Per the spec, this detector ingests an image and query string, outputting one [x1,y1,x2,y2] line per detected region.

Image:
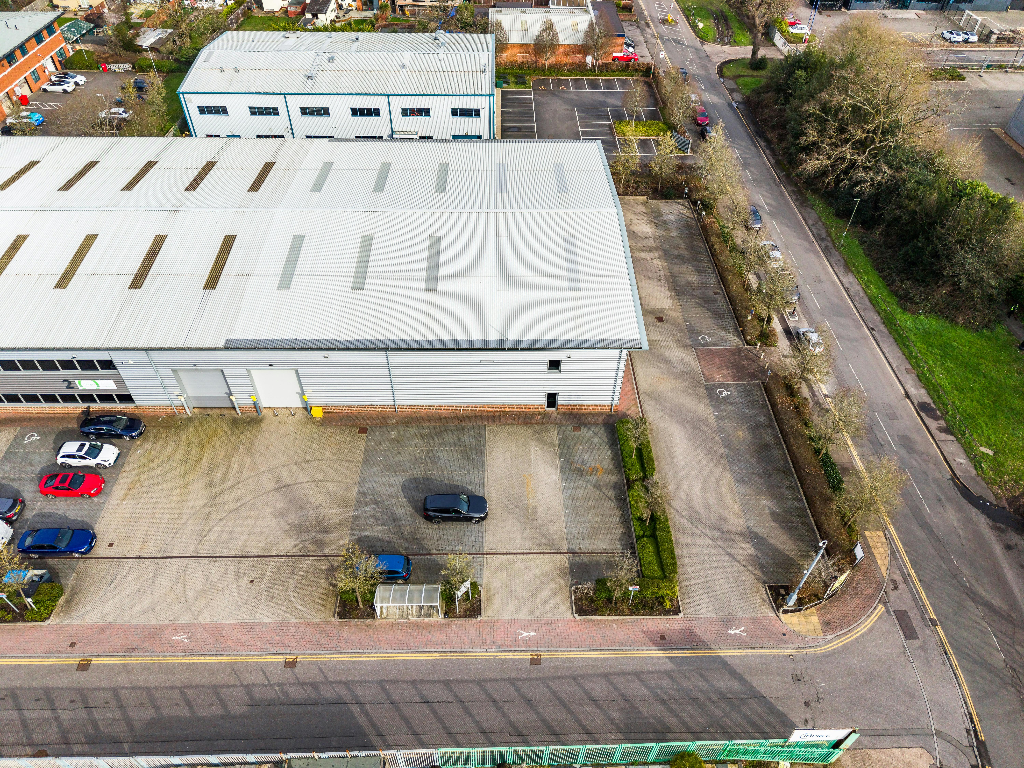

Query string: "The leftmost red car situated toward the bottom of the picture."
[38,469,107,497]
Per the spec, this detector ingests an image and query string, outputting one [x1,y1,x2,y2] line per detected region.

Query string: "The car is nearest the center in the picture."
[422,490,489,523]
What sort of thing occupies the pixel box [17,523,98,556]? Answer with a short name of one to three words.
car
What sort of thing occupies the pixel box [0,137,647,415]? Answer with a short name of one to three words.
warehouse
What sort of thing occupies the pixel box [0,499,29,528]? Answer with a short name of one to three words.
car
